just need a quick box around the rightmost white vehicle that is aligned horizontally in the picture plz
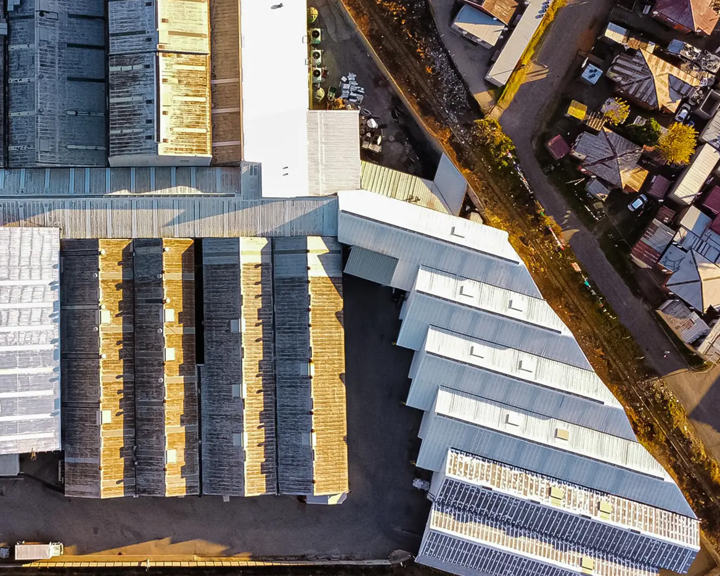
[14,544,64,566]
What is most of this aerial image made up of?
buildings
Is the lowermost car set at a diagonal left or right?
right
